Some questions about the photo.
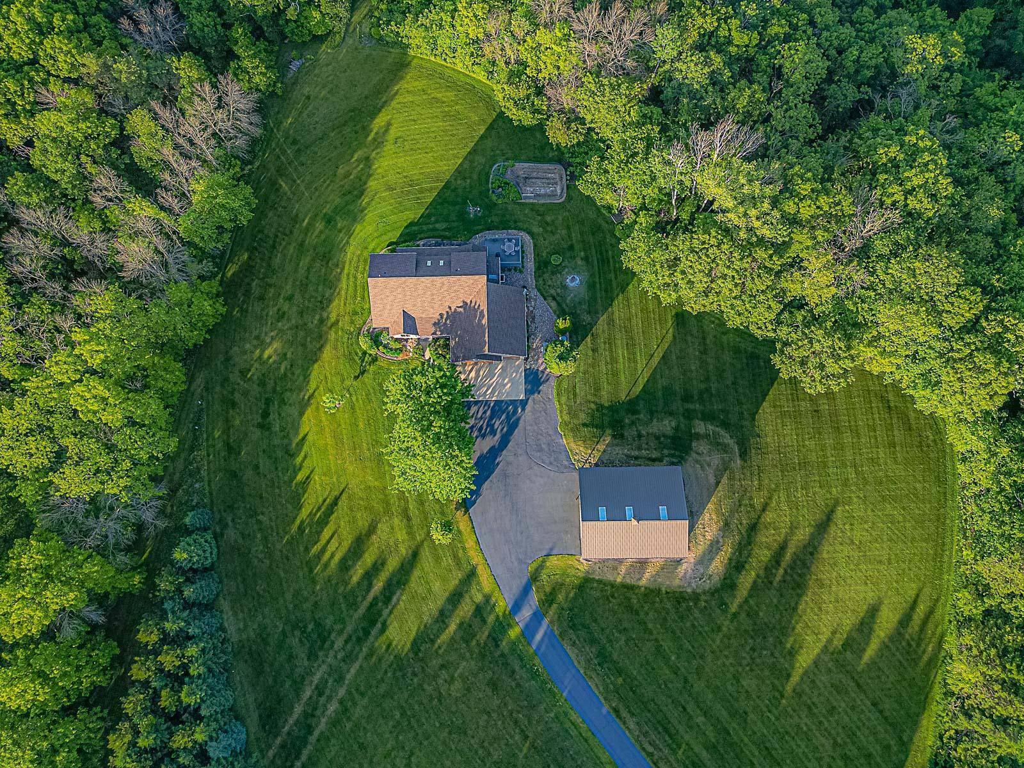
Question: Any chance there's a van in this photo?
No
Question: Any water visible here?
No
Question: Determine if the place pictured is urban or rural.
rural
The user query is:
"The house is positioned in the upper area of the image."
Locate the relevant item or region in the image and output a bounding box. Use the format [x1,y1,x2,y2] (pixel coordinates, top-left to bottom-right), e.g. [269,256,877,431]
[366,240,527,365]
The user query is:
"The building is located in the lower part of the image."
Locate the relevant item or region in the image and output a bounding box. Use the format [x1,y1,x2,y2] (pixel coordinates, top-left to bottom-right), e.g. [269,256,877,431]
[574,466,690,562]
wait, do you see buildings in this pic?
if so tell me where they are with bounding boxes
[366,240,527,365]
[574,466,690,562]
